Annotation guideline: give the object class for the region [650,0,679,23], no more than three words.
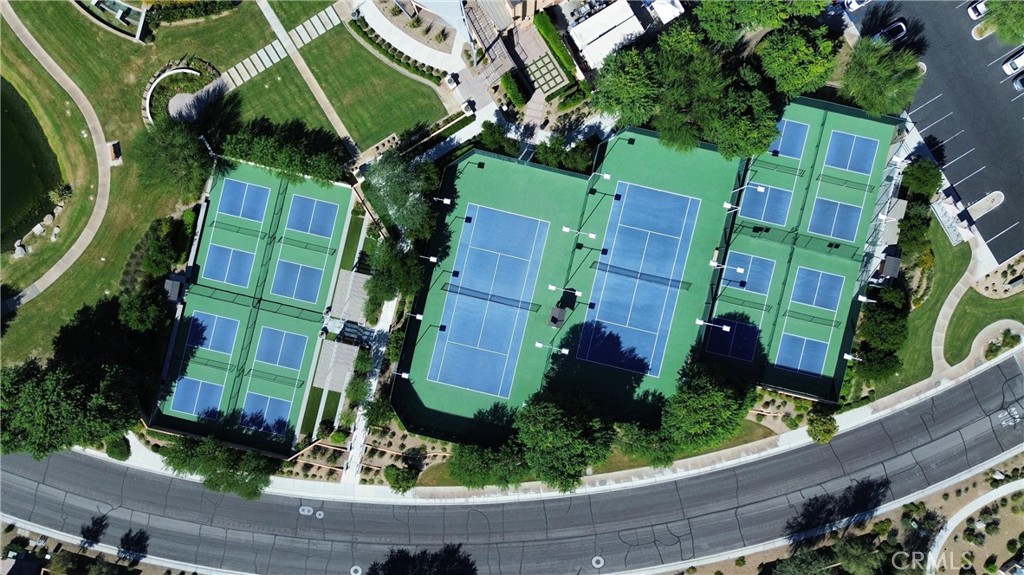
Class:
umbrella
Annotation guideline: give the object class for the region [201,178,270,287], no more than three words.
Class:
sports court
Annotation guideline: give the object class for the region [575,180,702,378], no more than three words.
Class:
tennis court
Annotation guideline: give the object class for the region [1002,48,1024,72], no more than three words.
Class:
car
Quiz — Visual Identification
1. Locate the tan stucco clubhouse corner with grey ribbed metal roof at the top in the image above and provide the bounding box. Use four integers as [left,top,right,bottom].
[481,0,579,42]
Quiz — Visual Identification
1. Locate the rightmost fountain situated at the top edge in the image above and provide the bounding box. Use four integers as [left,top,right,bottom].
[68,0,147,46]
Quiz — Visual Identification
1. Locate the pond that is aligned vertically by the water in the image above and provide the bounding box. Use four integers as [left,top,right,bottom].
[0,75,61,250]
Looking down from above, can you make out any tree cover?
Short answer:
Yes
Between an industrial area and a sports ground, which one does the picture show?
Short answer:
sports ground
